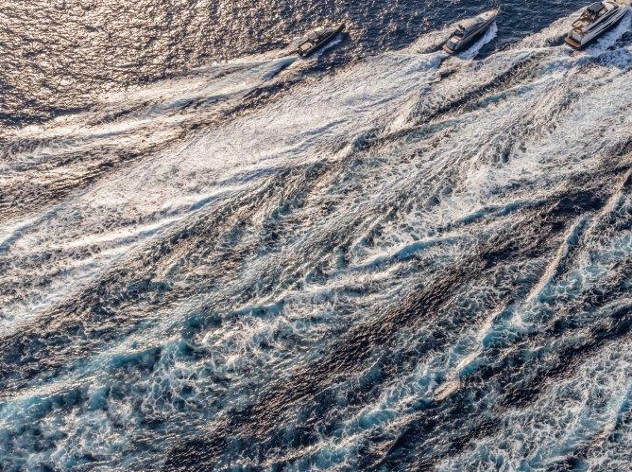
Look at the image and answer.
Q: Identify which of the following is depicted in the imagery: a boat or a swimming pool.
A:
boat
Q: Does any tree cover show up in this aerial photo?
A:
No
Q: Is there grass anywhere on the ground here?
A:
No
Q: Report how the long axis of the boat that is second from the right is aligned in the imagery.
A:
on a diagonal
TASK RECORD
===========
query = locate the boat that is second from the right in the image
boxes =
[441,5,500,56]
